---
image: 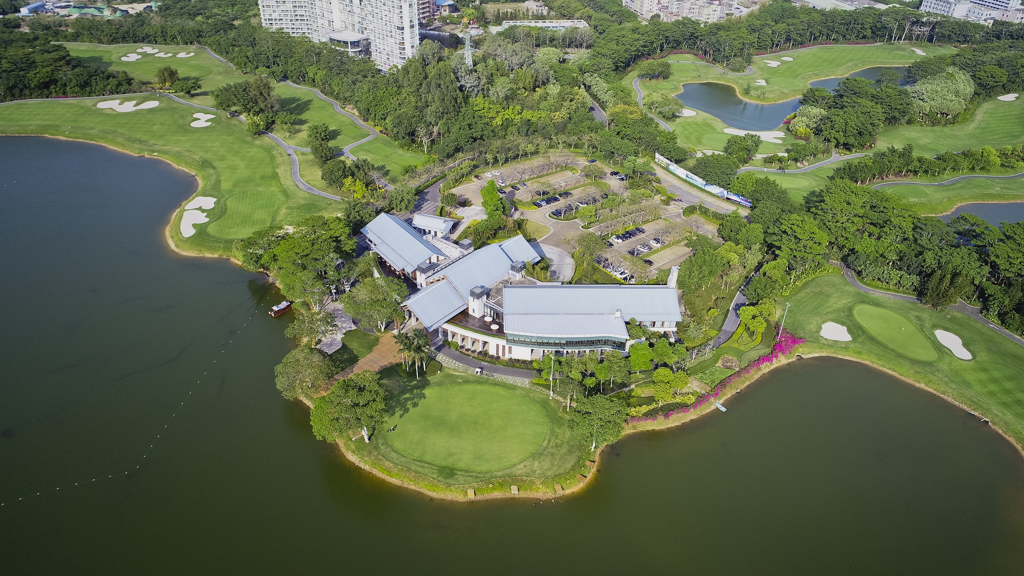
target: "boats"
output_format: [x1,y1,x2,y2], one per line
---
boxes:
[268,301,292,317]
[715,401,726,412]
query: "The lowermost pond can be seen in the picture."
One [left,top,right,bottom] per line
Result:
[926,201,1024,252]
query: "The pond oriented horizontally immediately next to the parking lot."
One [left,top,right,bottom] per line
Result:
[673,66,918,131]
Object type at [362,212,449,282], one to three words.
building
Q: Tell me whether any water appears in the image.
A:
Yes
